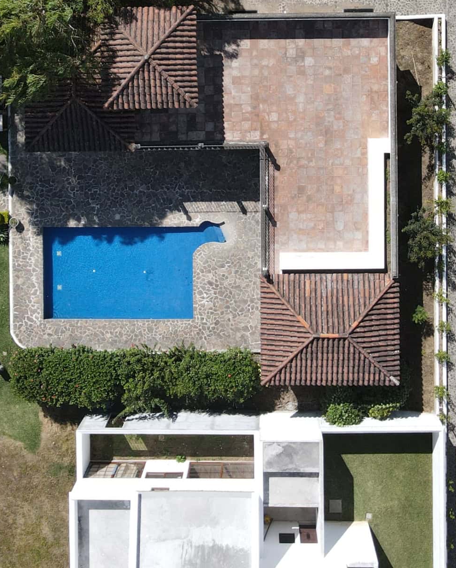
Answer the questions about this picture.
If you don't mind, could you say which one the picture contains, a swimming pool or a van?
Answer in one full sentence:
Visible in the photo is a swimming pool.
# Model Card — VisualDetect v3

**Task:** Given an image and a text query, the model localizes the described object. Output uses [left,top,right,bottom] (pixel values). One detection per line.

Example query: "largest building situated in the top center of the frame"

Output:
[133,8,396,277]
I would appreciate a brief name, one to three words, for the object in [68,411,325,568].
house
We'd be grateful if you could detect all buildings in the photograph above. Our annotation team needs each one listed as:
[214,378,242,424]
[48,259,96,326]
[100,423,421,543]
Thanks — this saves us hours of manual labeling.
[133,8,396,277]
[68,411,325,568]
